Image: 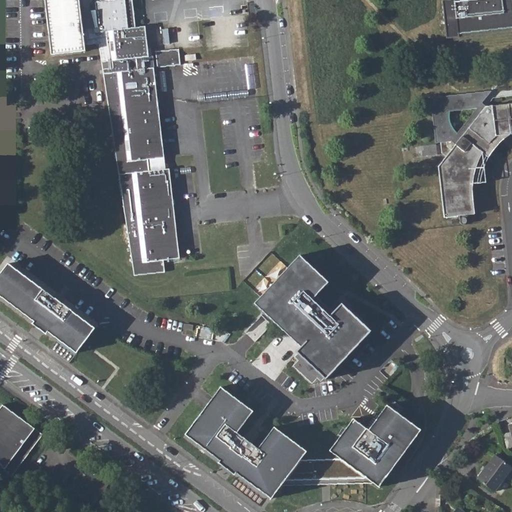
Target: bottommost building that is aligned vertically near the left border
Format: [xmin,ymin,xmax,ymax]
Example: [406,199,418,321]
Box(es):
[0,404,35,478]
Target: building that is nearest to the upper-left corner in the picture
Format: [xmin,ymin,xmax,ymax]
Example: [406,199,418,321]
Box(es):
[46,0,85,54]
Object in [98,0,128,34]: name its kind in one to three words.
building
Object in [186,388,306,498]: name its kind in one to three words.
building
